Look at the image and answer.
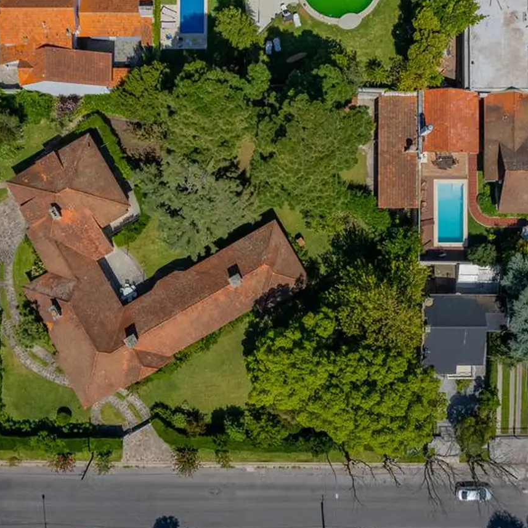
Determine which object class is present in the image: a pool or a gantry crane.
pool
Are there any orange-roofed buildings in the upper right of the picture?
Yes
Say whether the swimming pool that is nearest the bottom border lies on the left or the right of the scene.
right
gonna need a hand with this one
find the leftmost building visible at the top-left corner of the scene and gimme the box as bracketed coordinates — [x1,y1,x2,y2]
[0,0,153,91]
